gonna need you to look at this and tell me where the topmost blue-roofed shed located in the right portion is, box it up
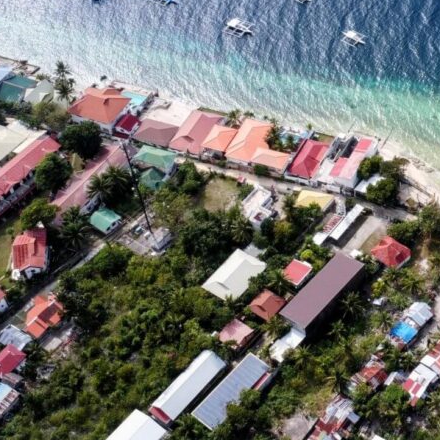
[391,318,418,345]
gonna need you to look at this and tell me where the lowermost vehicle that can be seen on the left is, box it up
[129,224,147,238]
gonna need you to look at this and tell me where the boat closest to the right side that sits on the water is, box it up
[341,32,368,49]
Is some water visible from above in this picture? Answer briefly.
Yes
